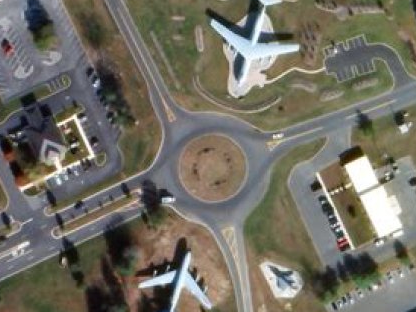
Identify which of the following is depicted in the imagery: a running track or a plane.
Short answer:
plane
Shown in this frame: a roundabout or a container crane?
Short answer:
roundabout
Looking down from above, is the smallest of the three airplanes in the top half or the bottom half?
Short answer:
bottom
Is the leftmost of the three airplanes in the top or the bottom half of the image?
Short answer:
bottom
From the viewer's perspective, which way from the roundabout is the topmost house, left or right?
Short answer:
on the left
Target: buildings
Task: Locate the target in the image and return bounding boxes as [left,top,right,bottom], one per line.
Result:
[345,156,379,193]
[360,186,404,238]
[22,102,67,165]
